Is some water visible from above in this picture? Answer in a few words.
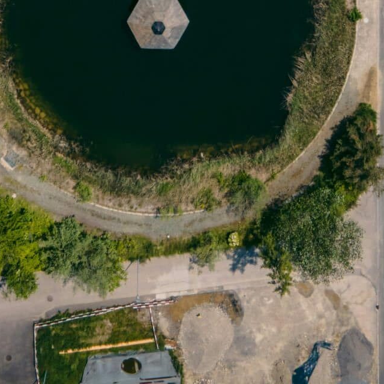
Yes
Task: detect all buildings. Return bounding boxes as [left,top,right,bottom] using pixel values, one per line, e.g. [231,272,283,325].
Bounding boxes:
[82,340,190,384]
[127,0,190,49]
